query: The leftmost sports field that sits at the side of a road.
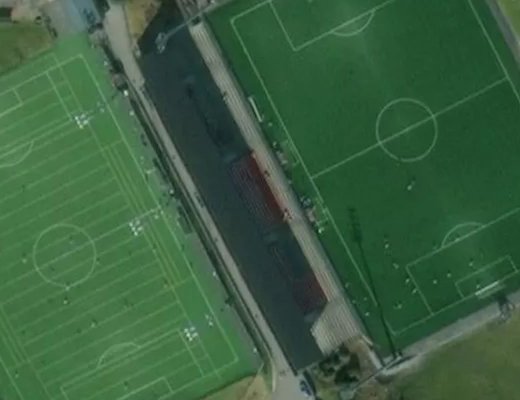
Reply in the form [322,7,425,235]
[0,35,258,400]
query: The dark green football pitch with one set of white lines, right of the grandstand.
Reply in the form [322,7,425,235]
[205,0,520,361]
